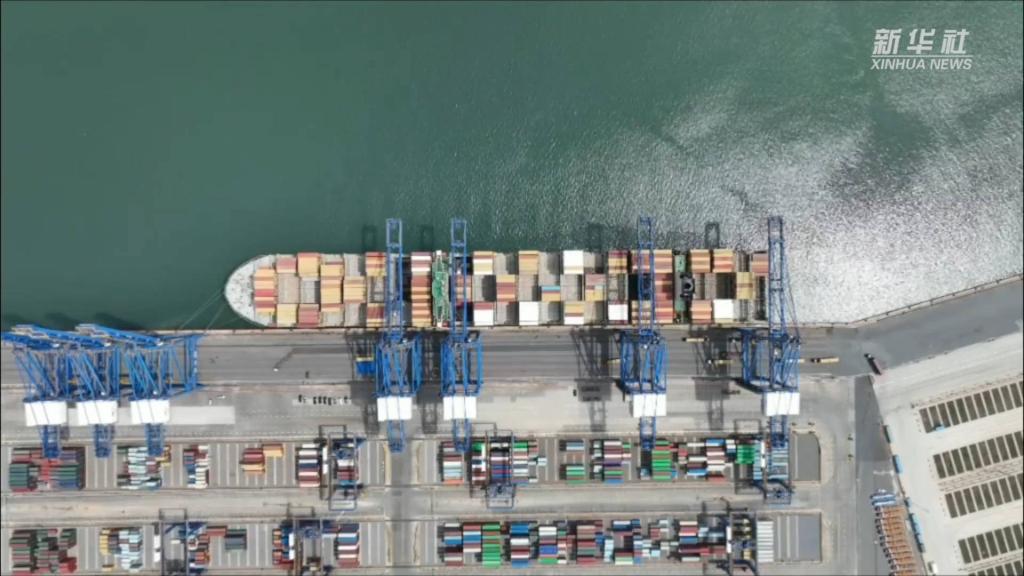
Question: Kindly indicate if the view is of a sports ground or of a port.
port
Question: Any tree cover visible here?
No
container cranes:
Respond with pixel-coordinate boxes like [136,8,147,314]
[12,323,155,455]
[718,509,760,576]
[0,331,110,456]
[480,429,515,510]
[733,215,804,447]
[376,219,428,452]
[290,515,333,576]
[440,218,487,451]
[324,430,366,512]
[614,216,671,449]
[74,323,204,454]
[156,517,205,576]
[751,423,794,505]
